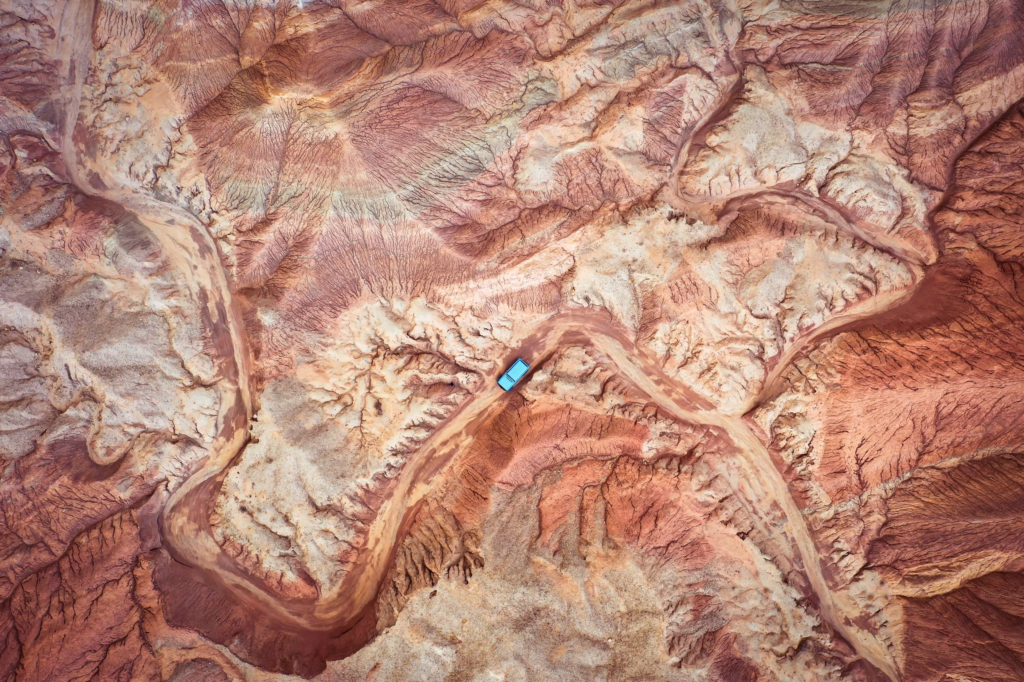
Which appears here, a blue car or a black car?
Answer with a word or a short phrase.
blue car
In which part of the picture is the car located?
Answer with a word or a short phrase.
center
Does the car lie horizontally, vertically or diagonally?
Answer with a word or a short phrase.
diagonally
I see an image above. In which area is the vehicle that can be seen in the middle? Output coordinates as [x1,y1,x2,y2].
[499,357,531,391]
